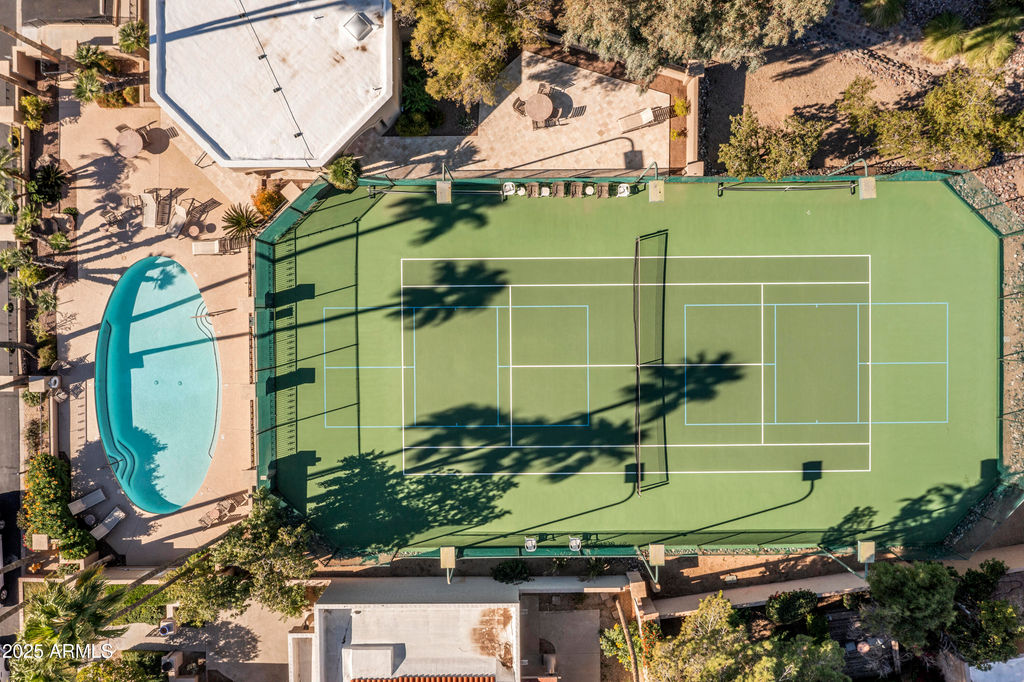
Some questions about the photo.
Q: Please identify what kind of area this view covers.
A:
sports ground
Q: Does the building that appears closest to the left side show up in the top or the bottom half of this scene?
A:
top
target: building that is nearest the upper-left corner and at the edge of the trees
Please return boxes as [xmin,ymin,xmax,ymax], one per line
[149,0,401,179]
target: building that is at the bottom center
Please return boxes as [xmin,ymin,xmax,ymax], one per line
[315,577,526,682]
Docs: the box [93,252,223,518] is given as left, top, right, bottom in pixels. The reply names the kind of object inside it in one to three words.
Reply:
swimming pool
